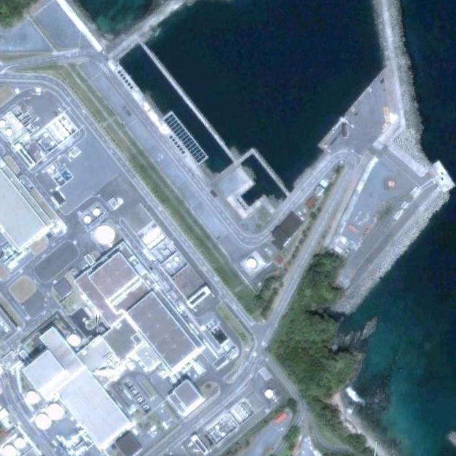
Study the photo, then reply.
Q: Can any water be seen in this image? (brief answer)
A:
Yes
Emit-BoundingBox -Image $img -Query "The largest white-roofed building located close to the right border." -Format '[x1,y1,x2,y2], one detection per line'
[432,162,455,194]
